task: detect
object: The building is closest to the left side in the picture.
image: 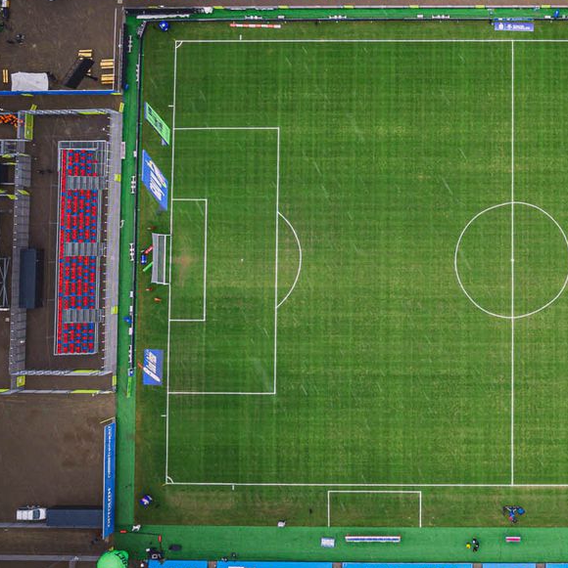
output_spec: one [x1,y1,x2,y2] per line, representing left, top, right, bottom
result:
[0,165,15,188]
